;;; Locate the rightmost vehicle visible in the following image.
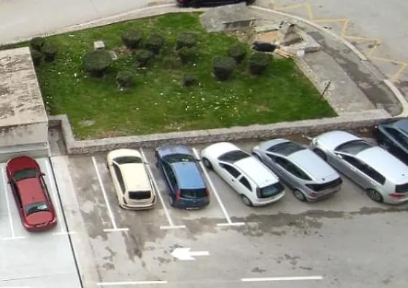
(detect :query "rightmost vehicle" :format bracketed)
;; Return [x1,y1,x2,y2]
[370,121,408,175]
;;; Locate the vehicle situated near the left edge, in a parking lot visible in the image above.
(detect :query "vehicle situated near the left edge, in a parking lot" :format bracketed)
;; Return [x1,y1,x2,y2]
[7,157,57,231]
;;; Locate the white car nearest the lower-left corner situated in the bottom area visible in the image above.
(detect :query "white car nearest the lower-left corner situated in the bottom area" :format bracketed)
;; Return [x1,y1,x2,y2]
[106,149,156,211]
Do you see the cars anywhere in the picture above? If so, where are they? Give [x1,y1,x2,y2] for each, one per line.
[106,149,156,211]
[370,121,408,175]
[316,133,408,206]
[155,146,210,209]
[255,137,350,207]
[7,157,57,231]
[207,143,286,208]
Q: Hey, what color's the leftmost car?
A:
red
